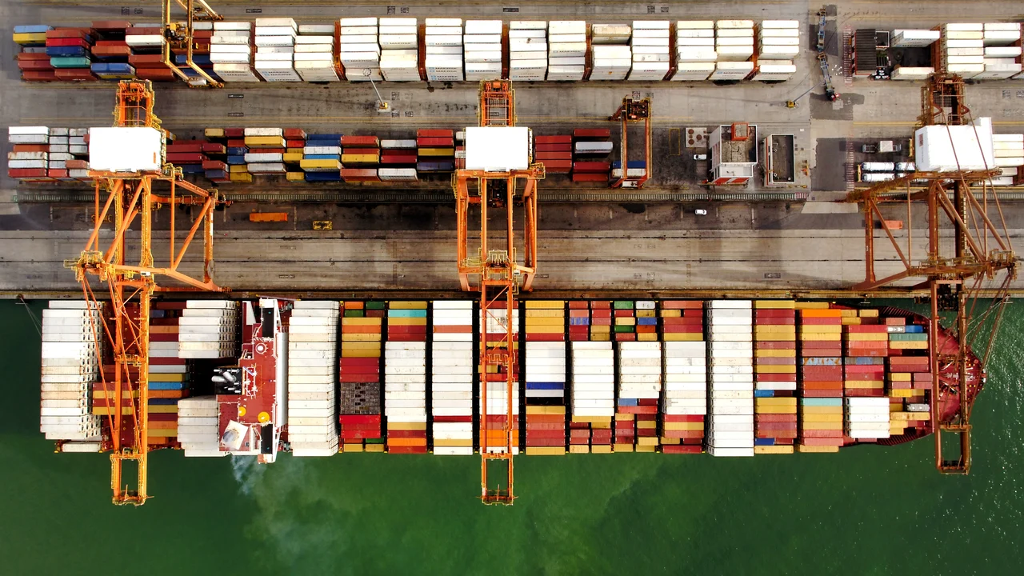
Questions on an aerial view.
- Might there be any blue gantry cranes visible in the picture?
No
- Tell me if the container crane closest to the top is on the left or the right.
left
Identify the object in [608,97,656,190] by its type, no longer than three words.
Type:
container crane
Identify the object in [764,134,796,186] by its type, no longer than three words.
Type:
building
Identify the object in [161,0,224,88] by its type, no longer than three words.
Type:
container crane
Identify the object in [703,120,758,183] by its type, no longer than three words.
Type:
building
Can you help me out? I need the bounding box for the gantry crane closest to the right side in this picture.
[839,71,1013,476]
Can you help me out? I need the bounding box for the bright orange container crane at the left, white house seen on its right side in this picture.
[64,79,233,506]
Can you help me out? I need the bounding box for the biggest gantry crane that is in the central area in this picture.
[454,78,548,507]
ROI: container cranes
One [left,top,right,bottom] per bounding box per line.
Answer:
[608,97,656,190]
[64,79,233,506]
[161,0,224,88]
[454,78,548,507]
[839,71,1013,476]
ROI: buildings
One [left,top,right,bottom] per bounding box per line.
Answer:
[764,134,796,186]
[703,120,758,183]
[850,30,876,79]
